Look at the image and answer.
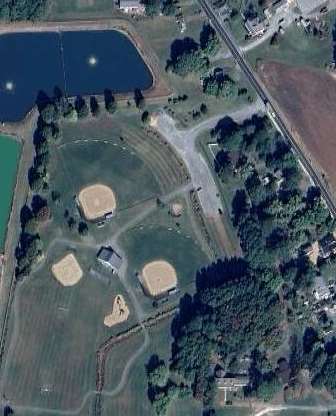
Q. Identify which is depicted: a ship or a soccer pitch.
soccer pitch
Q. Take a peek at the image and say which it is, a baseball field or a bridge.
baseball field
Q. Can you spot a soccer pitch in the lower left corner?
Yes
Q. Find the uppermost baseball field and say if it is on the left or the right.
left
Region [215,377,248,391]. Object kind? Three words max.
house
